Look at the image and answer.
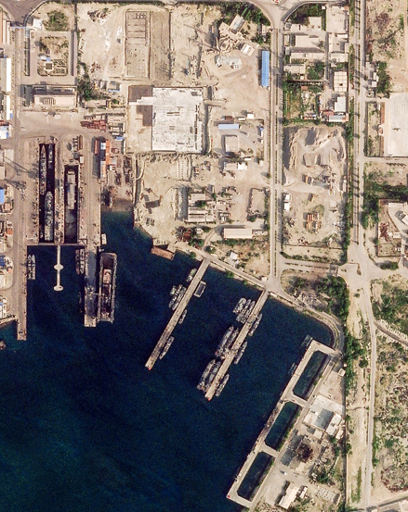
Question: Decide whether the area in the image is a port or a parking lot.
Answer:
port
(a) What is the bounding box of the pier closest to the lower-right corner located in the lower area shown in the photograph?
[206,290,270,398]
